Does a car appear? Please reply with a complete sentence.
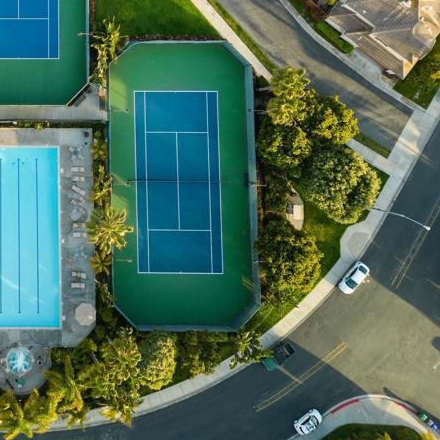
Yes, a car is visible in the scene.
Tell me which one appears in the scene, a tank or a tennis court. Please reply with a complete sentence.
This aerial view contains a tennis court.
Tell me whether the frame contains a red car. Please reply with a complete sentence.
No, there isn't any red car down there.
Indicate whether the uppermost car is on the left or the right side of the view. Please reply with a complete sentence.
It is on the right.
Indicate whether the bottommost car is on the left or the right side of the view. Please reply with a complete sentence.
The bottommost car appears in the right half of the scene.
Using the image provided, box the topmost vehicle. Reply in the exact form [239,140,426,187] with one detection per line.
[341,261,373,295]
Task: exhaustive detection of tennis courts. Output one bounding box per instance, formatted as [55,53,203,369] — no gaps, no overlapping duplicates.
[0,0,92,107]
[107,41,261,332]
